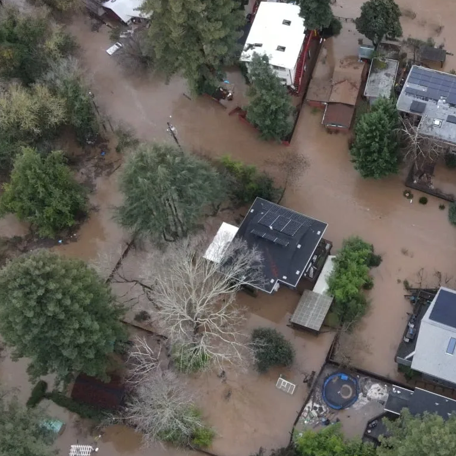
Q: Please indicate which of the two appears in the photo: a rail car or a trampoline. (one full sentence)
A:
The one in the frame is a trampoline.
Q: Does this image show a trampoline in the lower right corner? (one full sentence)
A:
Yes, you'll find a trampoline in the lower right corner.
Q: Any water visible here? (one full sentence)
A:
Yes, there's water in this view.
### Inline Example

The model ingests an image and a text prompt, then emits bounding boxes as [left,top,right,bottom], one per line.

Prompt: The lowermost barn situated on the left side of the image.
[70,372,129,415]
